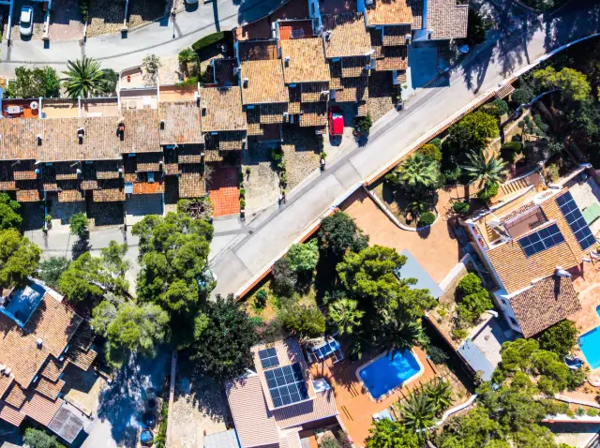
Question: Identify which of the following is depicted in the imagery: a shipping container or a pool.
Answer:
pool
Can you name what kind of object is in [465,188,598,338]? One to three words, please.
house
